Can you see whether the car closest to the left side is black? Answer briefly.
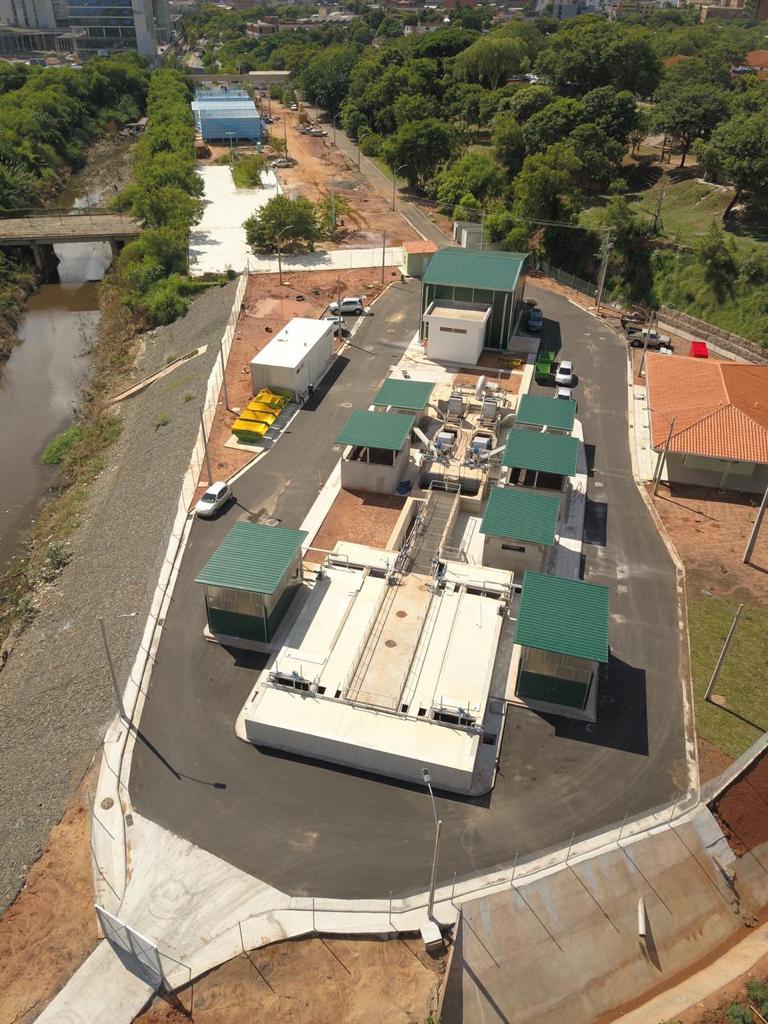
No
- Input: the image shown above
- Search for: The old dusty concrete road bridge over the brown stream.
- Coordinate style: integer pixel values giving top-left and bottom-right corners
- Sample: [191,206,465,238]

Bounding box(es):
[0,198,139,271]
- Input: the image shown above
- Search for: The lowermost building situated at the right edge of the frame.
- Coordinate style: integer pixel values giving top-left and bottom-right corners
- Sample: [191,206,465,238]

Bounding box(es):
[647,354,768,490]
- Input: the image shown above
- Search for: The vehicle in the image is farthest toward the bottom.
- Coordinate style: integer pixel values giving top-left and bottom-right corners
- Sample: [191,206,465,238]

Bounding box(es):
[193,481,232,515]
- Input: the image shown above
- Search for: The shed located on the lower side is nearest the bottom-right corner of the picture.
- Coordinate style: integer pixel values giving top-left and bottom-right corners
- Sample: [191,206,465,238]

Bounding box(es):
[514,569,612,710]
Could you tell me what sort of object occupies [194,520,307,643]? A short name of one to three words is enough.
shed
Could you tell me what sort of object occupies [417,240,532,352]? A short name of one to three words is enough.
building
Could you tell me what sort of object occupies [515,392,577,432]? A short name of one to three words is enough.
shed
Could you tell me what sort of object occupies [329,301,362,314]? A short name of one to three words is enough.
vehicle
